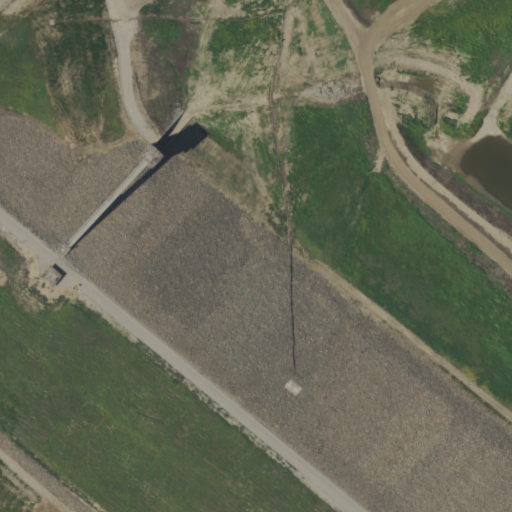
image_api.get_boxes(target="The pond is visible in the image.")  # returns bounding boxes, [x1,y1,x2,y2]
[458,135,512,217]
